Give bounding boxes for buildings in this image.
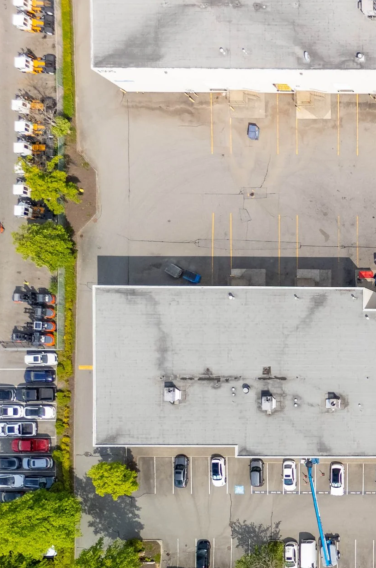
[91,0,376,94]
[92,285,376,458]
